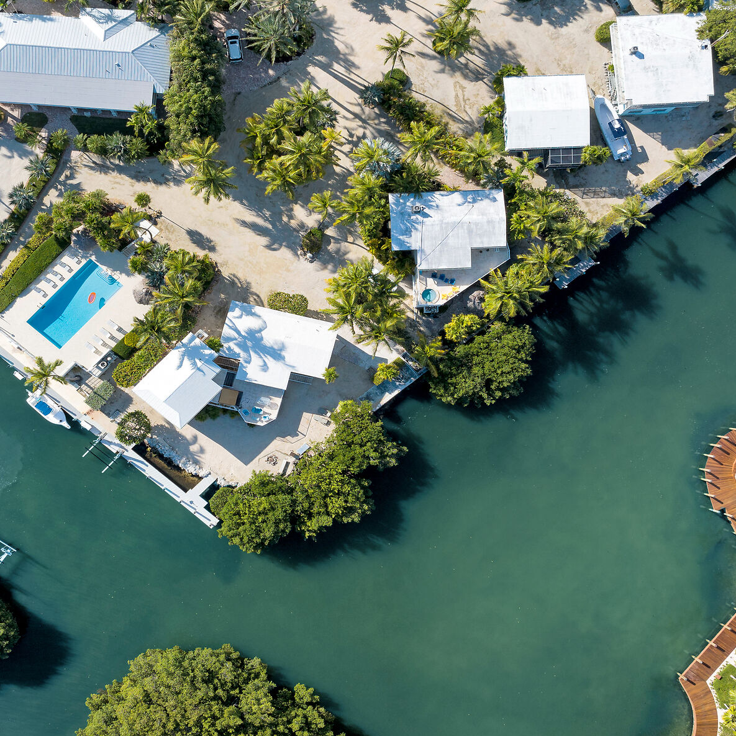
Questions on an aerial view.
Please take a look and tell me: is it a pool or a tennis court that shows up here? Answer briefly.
pool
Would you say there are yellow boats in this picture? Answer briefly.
No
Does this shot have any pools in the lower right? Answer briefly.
No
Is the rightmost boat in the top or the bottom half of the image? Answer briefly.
top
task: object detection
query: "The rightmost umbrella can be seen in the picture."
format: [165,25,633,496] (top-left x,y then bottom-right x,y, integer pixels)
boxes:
[129,281,156,307]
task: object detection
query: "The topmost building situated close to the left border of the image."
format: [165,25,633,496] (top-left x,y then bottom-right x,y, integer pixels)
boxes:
[0,7,172,119]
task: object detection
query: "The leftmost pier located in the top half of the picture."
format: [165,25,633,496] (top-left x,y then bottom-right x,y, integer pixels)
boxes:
[555,259,596,290]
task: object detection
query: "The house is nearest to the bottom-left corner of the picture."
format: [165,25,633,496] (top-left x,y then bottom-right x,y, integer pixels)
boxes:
[132,332,224,429]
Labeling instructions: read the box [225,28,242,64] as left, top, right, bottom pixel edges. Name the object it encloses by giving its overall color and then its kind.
blue car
